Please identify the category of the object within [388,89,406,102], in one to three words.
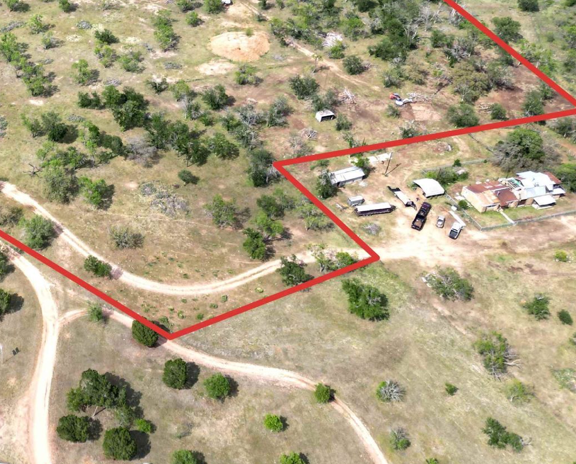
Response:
vehicle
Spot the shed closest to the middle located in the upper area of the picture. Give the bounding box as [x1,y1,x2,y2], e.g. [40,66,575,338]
[321,157,367,184]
